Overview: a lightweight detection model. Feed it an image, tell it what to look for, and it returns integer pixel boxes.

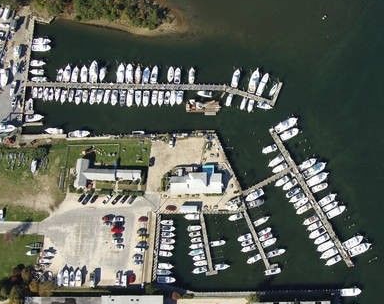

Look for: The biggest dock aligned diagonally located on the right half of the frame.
[269,128,353,268]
